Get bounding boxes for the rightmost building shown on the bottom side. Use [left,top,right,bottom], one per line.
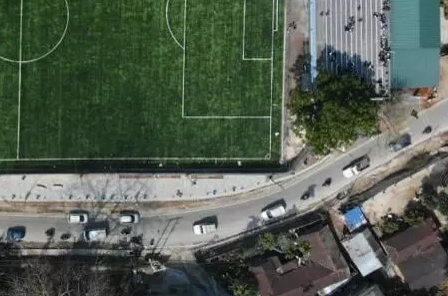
[378,217,448,289]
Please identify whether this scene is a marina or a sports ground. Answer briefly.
sports ground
